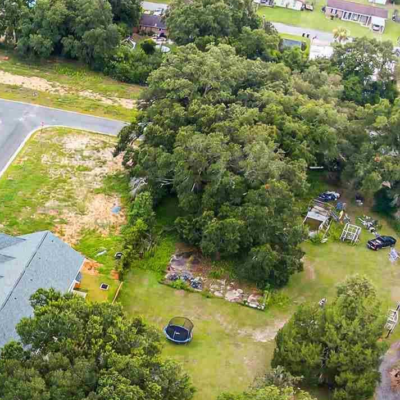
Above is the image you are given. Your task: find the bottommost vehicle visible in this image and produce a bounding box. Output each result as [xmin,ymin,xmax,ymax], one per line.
[365,237,398,251]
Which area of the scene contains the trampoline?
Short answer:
bottom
